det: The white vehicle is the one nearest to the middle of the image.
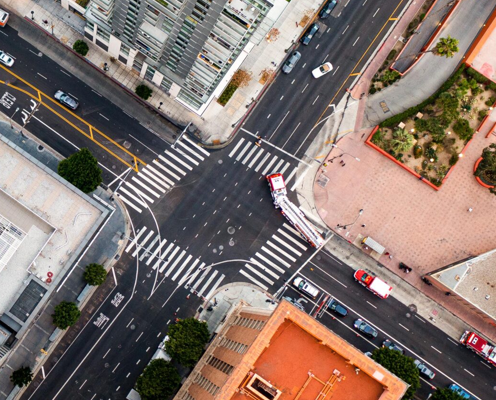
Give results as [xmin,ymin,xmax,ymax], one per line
[264,166,290,199]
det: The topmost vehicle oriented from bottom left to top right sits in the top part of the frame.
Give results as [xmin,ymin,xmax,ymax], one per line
[316,0,339,21]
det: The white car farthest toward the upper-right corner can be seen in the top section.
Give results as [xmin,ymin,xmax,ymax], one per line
[310,62,334,81]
